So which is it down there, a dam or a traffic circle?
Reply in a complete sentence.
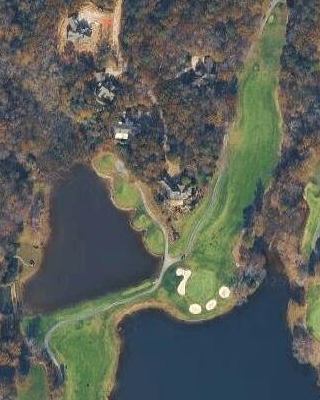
Visible in the photo is a dam.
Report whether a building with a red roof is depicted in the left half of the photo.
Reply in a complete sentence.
No, the scene shows no building with a red roof in the left half of the photo.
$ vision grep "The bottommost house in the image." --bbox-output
[166,184,196,209]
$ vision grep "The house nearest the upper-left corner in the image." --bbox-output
[67,17,95,41]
